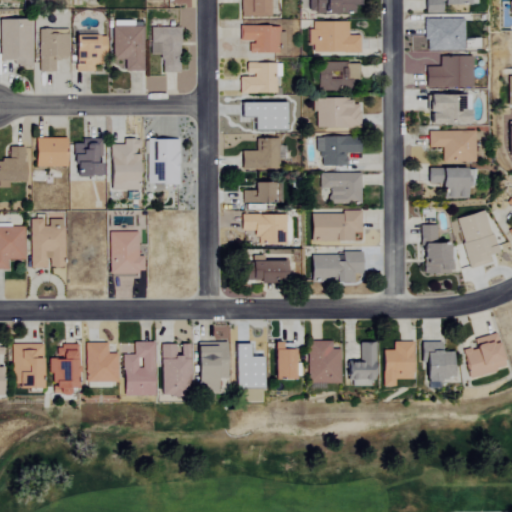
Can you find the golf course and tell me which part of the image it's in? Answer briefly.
bottom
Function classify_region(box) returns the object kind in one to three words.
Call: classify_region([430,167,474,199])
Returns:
house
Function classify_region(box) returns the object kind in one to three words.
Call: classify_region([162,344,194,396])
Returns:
house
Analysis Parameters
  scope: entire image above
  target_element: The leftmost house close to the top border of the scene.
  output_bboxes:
[1,18,34,69]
